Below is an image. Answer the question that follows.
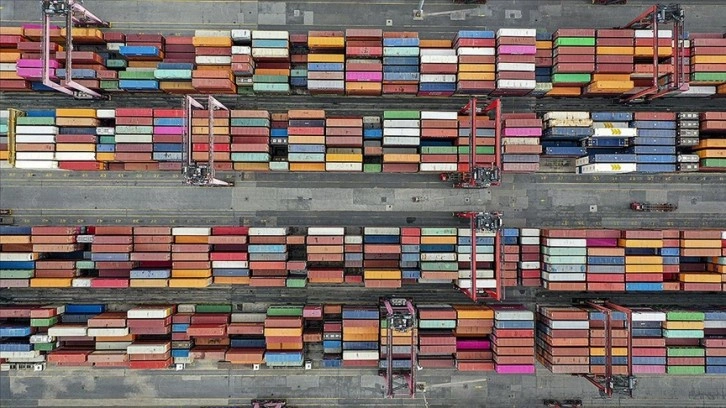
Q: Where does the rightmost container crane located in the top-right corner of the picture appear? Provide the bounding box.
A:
[611,1,688,104]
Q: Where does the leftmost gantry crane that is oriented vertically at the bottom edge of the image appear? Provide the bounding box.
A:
[377,299,420,399]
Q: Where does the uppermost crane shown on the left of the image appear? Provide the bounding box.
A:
[37,0,113,99]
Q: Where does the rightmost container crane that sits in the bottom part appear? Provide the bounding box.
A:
[569,299,639,399]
